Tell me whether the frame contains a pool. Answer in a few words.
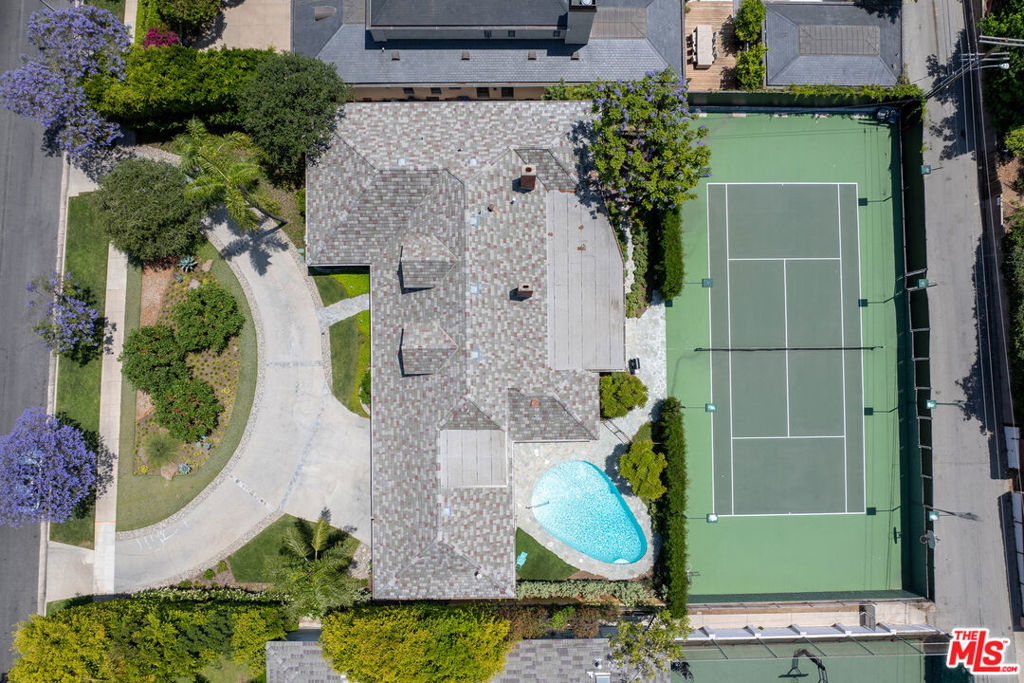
Yes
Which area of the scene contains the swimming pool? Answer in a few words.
bottom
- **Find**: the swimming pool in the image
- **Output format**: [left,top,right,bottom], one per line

[527,455,651,568]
